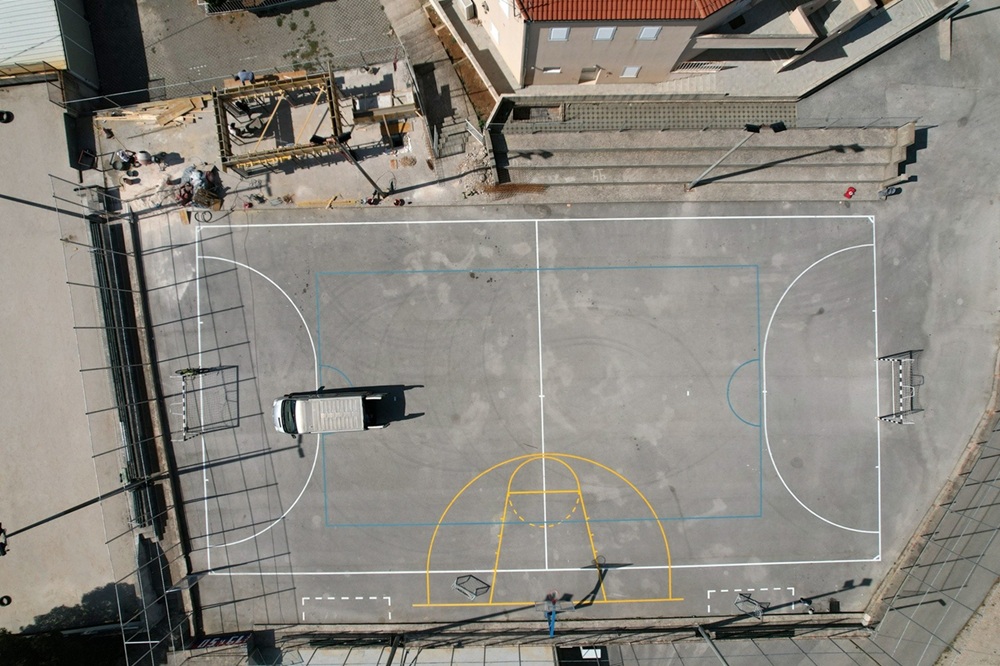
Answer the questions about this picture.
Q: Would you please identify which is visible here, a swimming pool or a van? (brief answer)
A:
van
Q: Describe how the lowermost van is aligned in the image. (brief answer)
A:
from side to side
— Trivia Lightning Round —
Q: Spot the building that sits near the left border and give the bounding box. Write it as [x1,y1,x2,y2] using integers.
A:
[0,0,99,90]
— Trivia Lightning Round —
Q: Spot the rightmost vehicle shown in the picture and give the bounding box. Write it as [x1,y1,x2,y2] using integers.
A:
[271,389,390,439]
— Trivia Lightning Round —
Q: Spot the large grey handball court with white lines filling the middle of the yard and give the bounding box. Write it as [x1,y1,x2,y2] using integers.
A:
[192,211,884,620]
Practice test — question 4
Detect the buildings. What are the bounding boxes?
[471,0,802,94]
[0,0,99,90]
